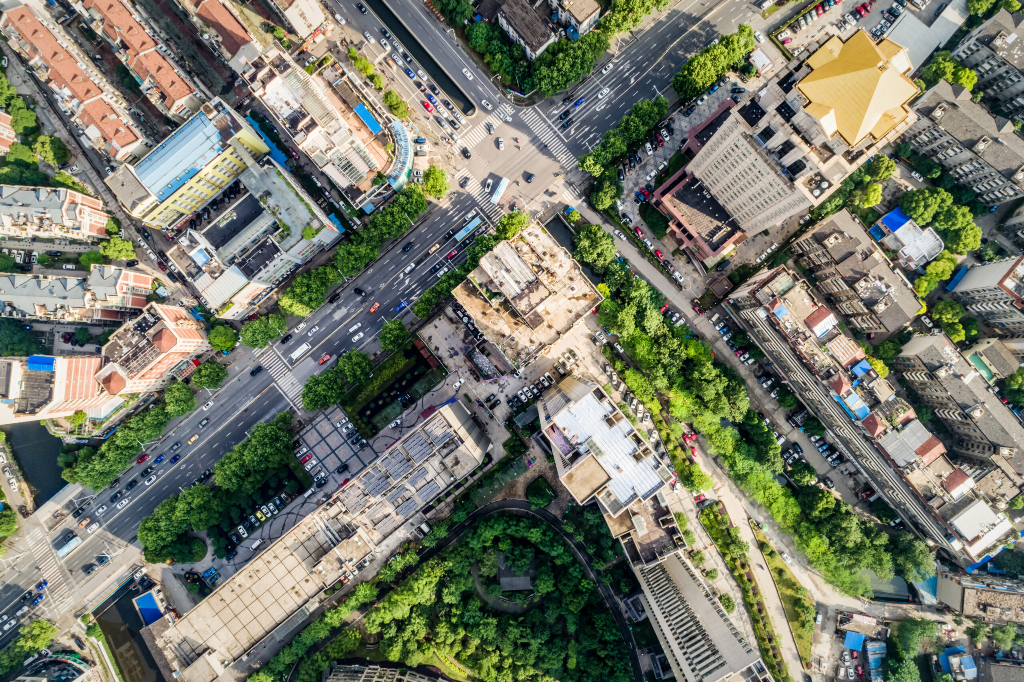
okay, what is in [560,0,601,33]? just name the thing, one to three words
house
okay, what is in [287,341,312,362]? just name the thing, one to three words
bus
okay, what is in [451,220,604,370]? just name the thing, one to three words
building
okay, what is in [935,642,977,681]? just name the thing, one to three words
house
